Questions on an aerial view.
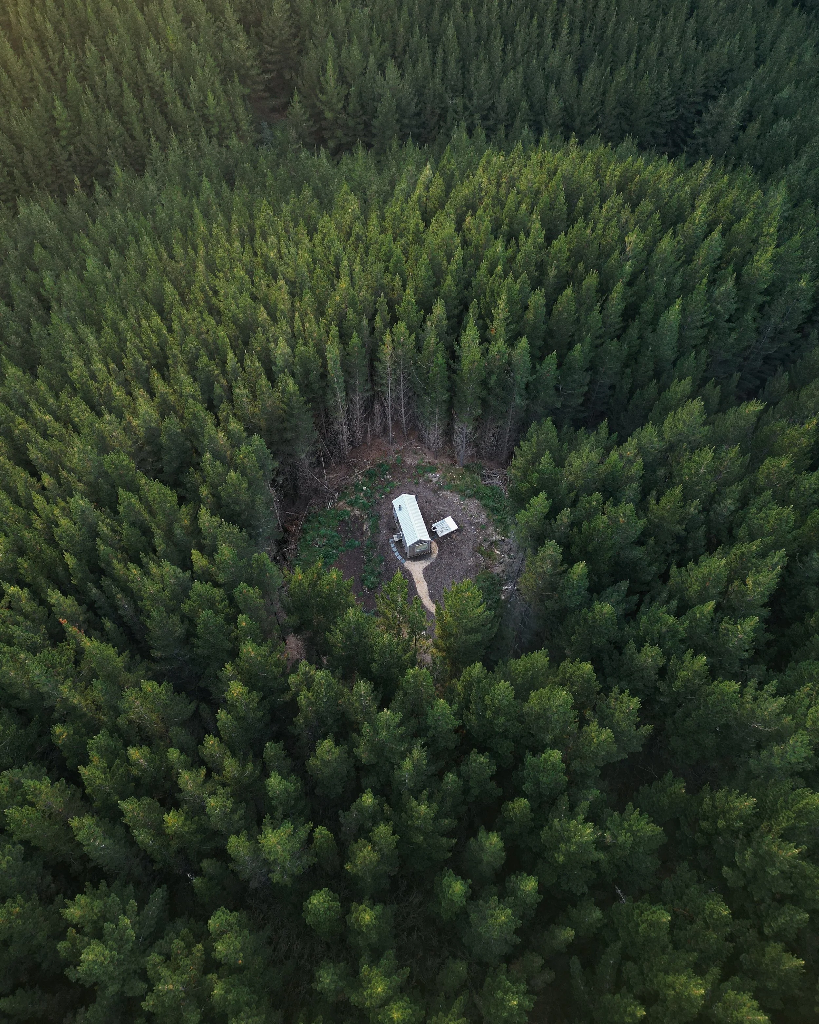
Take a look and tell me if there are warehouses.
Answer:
No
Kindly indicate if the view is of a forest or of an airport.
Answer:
forest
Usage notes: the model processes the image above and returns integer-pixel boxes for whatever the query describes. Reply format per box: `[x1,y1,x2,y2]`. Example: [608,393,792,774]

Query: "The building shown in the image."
[389,491,433,558]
